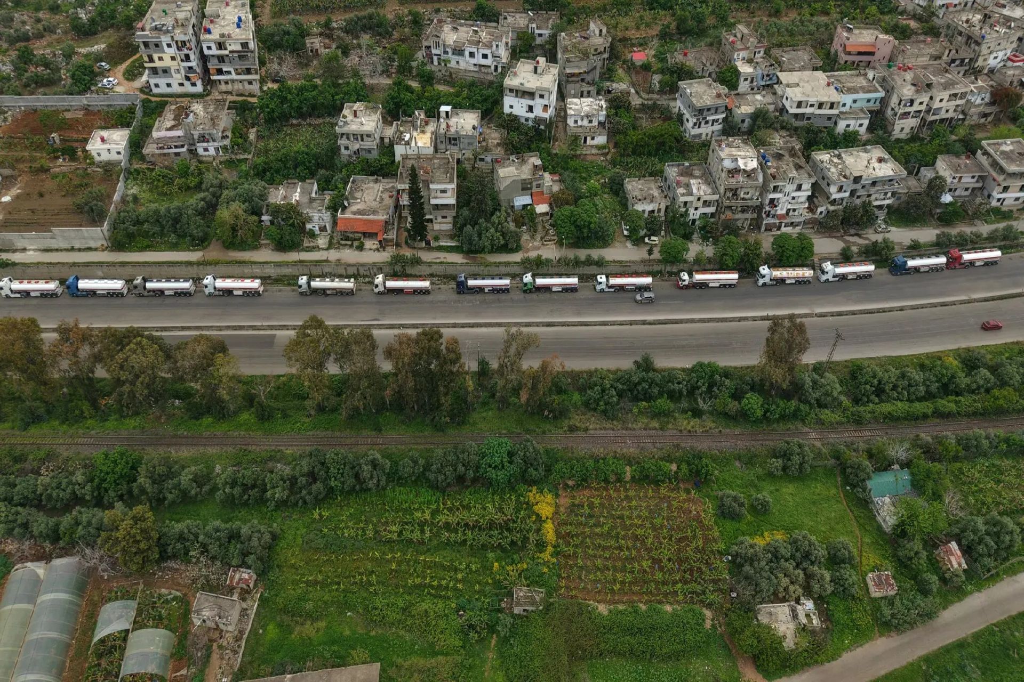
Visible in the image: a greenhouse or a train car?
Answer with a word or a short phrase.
greenhouse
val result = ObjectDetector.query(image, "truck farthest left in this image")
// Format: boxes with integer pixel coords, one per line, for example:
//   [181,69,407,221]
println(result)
[0,275,62,297]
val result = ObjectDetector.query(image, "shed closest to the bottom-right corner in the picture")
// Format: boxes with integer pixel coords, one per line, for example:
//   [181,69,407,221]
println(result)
[933,542,967,578]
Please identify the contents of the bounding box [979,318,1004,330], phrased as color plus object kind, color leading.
red vehicle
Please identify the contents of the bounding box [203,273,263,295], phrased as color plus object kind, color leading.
white truck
